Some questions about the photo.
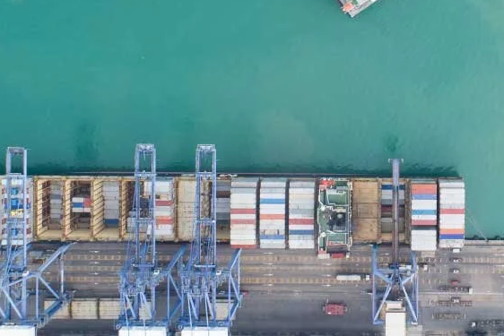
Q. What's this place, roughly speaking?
port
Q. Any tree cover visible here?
No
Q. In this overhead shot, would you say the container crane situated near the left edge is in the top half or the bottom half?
bottom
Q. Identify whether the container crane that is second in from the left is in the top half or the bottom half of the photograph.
bottom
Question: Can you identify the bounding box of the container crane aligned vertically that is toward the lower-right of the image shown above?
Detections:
[371,154,422,336]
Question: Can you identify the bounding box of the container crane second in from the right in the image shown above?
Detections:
[176,146,251,336]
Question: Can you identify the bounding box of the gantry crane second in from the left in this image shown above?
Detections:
[114,146,193,336]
